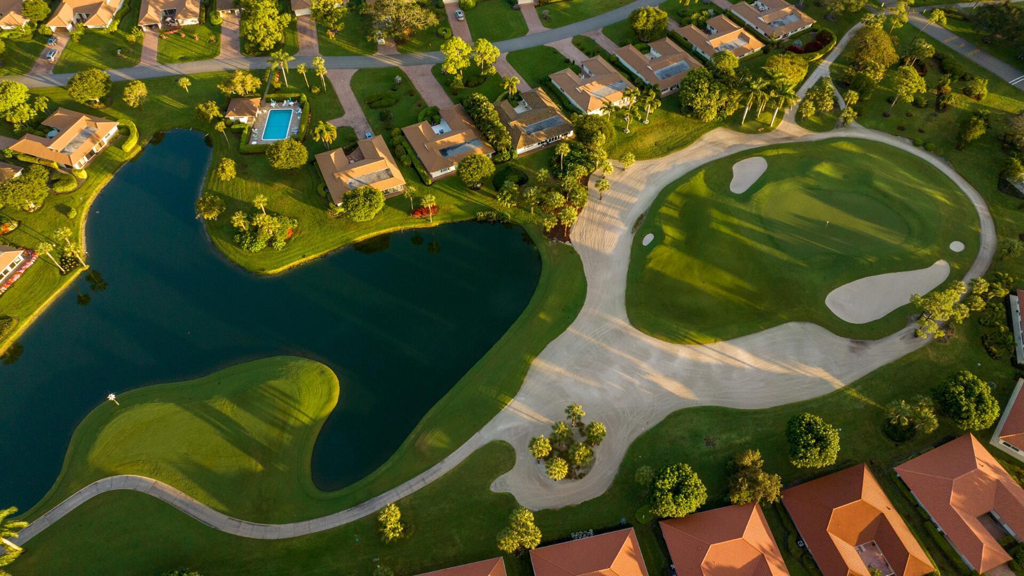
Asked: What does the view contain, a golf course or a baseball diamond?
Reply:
golf course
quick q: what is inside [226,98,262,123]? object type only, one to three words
building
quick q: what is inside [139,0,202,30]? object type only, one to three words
house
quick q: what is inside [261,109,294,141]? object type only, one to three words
swimming pool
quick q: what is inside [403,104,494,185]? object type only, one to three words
house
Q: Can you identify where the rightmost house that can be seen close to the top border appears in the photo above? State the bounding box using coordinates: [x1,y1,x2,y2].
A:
[725,0,816,43]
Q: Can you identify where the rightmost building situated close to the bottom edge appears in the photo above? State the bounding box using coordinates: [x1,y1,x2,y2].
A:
[893,433,1024,576]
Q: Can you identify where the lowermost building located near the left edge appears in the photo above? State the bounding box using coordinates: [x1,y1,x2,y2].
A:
[0,239,33,290]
